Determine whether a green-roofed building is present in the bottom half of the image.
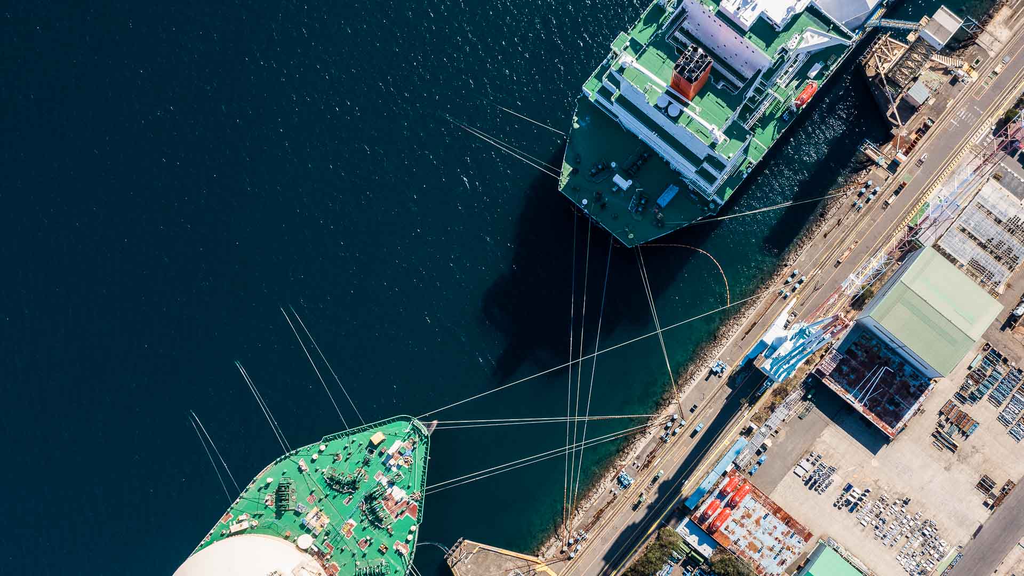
Yes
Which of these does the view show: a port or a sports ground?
port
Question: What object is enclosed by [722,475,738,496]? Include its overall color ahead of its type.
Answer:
red boat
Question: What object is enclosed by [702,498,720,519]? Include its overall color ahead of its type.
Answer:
red boat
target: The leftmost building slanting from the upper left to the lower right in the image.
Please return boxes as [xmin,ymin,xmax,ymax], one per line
[674,514,718,559]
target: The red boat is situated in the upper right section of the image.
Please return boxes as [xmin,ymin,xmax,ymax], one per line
[796,84,815,108]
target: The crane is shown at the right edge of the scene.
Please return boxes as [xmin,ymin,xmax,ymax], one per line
[734,112,1024,398]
